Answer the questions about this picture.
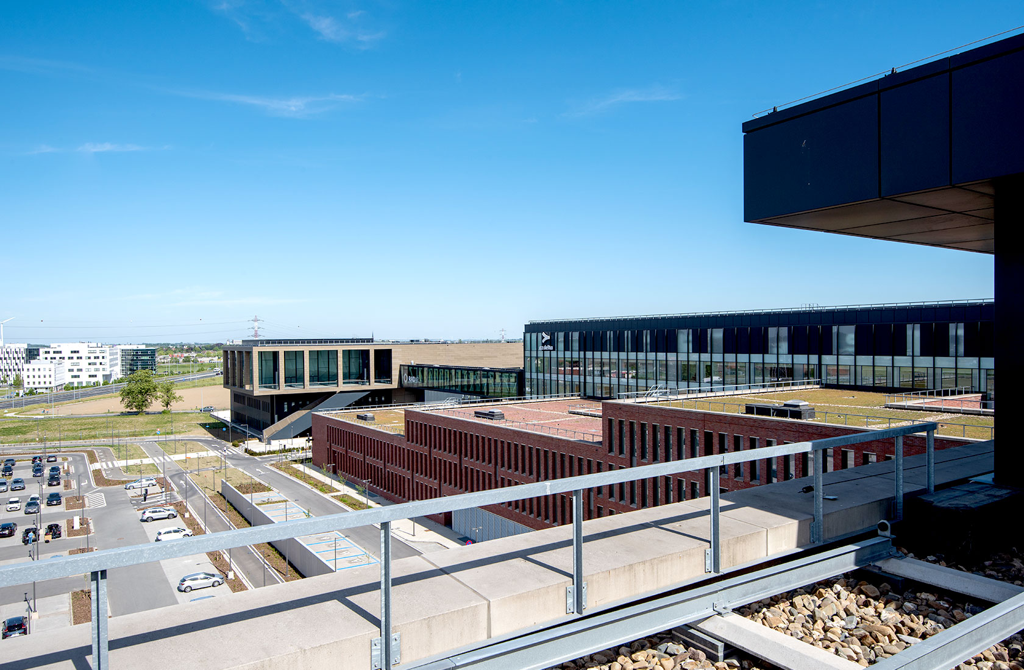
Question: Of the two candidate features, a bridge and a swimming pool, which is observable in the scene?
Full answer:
The one in the frame is a bridge.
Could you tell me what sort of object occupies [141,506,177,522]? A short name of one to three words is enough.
car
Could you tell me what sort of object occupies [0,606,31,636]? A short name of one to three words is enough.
car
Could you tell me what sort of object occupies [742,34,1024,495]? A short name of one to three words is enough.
building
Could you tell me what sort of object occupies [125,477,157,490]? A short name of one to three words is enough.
vehicle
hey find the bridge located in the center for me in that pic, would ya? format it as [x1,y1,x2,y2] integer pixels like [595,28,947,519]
[399,360,527,405]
